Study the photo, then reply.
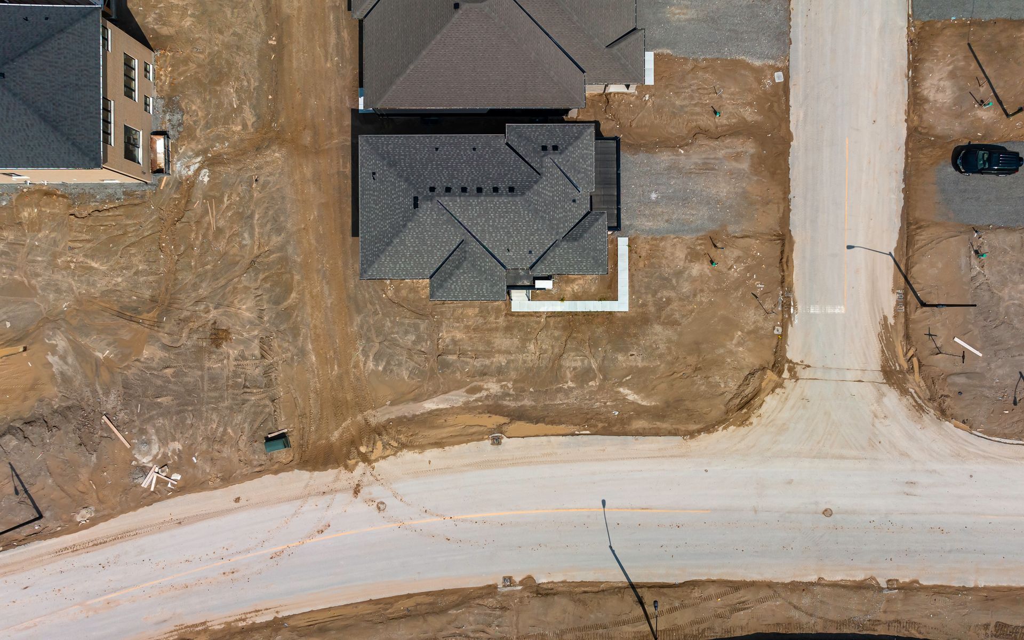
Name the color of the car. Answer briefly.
black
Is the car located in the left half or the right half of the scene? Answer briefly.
right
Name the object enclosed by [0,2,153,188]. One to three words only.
house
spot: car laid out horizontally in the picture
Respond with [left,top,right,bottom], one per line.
[957,146,1024,177]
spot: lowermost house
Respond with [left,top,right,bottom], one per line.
[359,123,621,301]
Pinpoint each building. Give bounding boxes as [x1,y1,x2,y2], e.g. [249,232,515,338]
[0,2,153,188]
[359,123,621,301]
[351,0,644,115]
